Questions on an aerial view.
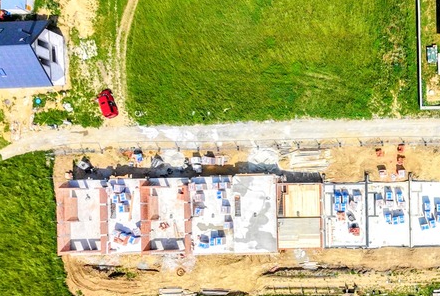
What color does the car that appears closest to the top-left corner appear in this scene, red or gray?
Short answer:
red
